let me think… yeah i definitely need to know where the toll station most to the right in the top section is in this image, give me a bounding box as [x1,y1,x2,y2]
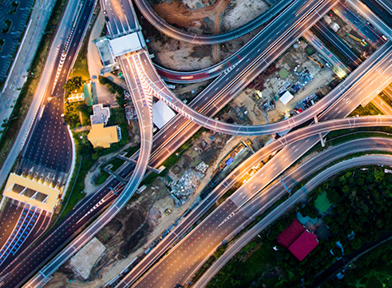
[109,30,145,58]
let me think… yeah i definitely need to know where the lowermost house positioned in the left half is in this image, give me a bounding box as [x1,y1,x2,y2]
[92,123,117,147]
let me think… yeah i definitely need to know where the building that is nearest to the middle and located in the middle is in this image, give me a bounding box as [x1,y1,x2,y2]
[151,99,176,130]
